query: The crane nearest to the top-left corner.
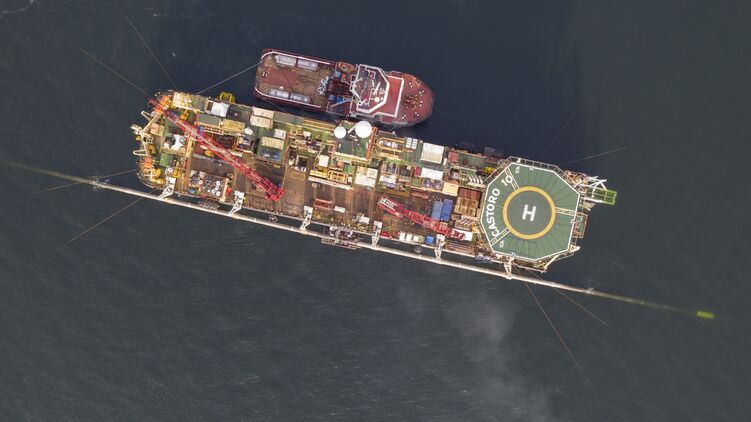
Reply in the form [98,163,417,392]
[147,97,287,200]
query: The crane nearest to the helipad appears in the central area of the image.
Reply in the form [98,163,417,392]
[373,196,466,239]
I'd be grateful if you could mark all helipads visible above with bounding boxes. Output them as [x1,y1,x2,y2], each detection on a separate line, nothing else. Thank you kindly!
[479,155,587,261]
